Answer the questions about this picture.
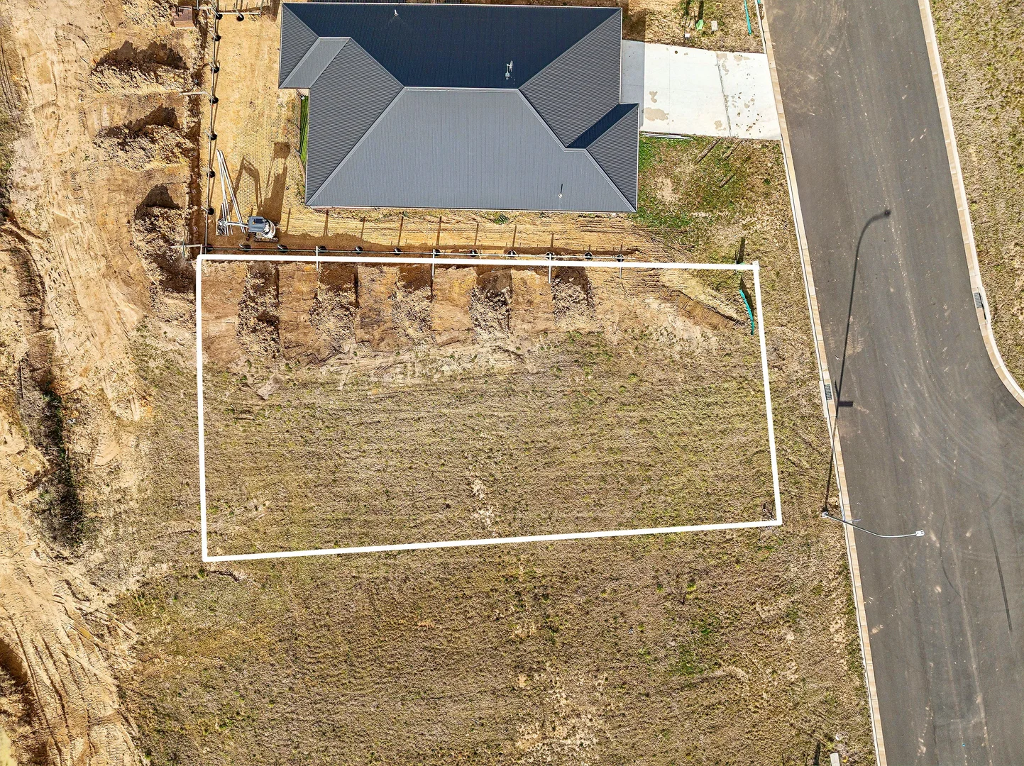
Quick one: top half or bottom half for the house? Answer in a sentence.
Seen from above, the house lies in the top half of the view.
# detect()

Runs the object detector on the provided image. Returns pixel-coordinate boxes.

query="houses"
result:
[278,2,640,214]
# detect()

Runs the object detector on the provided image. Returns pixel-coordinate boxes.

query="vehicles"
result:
[214,216,280,243]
